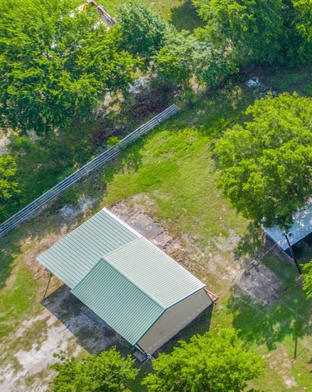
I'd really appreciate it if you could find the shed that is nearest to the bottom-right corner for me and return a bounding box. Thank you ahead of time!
[260,197,312,261]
